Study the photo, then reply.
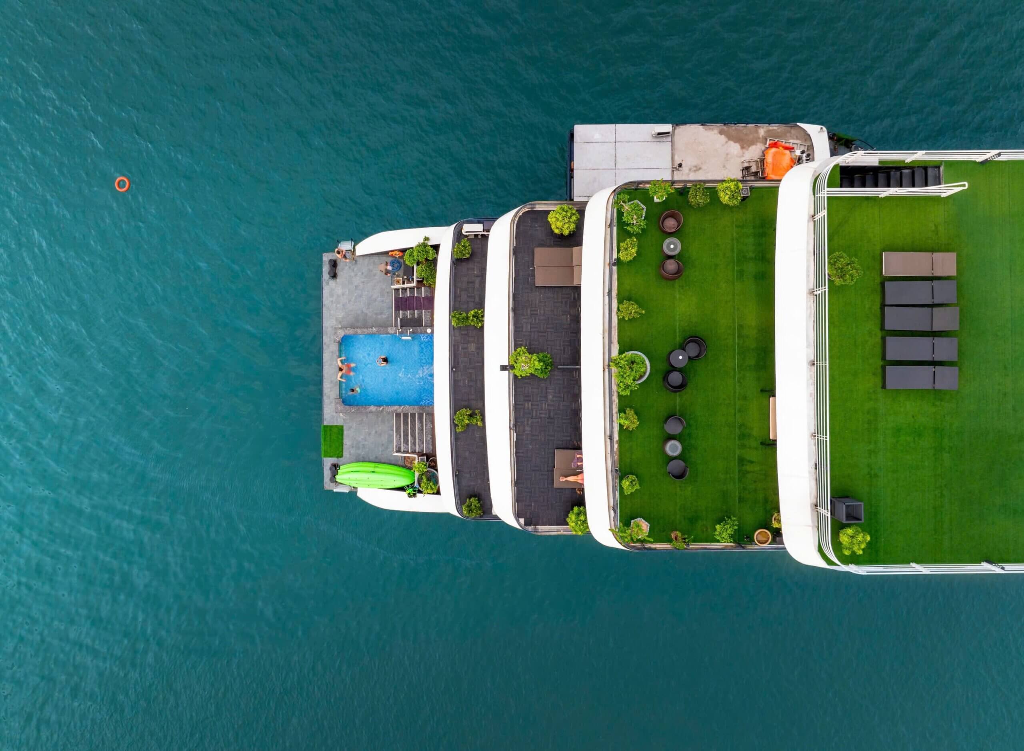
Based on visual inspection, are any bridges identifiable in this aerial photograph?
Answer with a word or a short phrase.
No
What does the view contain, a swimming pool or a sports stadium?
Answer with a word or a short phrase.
swimming pool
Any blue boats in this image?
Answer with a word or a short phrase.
No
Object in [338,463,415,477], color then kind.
green boat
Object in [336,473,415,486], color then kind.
green boat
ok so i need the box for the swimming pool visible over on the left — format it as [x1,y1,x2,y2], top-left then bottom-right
[334,319,434,413]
